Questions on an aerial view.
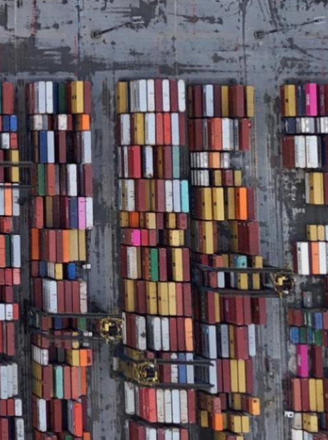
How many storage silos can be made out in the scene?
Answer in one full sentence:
The picture shows no storage silos.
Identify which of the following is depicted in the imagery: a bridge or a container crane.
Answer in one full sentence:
The image shows a container crane.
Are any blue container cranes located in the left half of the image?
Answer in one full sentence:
No, no blue container crane is visible in the left half of the image.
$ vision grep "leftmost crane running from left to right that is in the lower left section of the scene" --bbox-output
[28,301,119,344]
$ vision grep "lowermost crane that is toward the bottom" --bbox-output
[115,345,212,392]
